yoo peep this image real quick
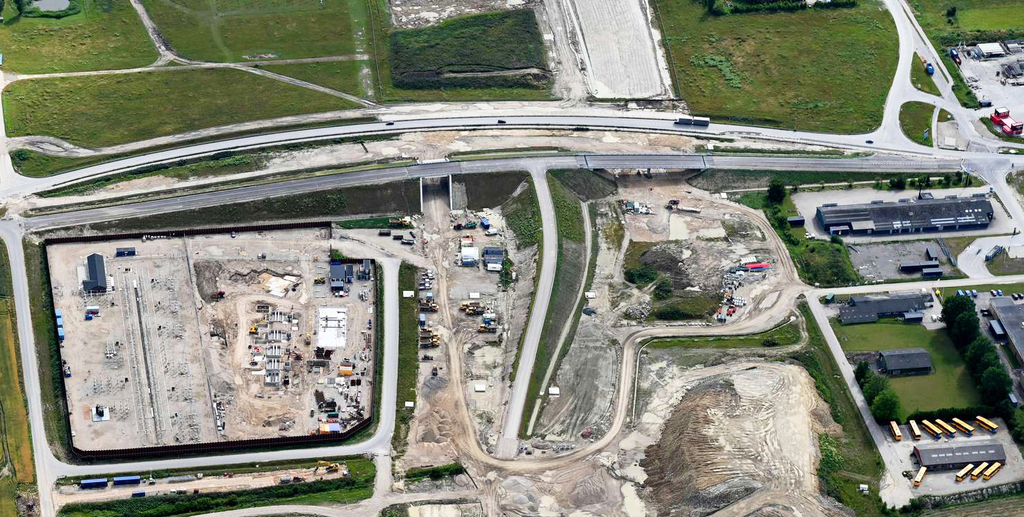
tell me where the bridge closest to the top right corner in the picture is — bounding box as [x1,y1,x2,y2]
[574,153,720,179]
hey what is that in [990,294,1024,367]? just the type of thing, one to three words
building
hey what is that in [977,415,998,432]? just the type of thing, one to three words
vehicle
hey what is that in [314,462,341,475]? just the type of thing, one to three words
vehicle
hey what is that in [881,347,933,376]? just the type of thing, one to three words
barn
